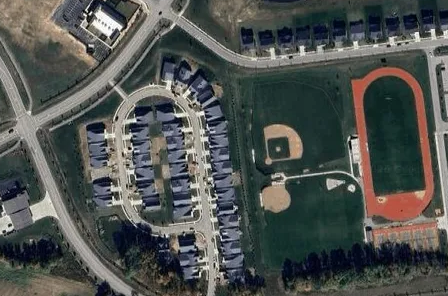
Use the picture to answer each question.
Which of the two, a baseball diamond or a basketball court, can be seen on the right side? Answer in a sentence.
Visible on the right side is a baseball diamond.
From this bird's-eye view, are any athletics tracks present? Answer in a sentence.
Yes, looking at the shot, I can spot an athletics track.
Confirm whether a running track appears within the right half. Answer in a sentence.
Yes, I can see a running track within the right half.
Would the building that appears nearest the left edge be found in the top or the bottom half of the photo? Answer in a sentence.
It is in the bottom half that the building that appears nearest the left edge appears.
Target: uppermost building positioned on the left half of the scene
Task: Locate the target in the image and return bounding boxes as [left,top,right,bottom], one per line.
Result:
[90,0,136,38]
